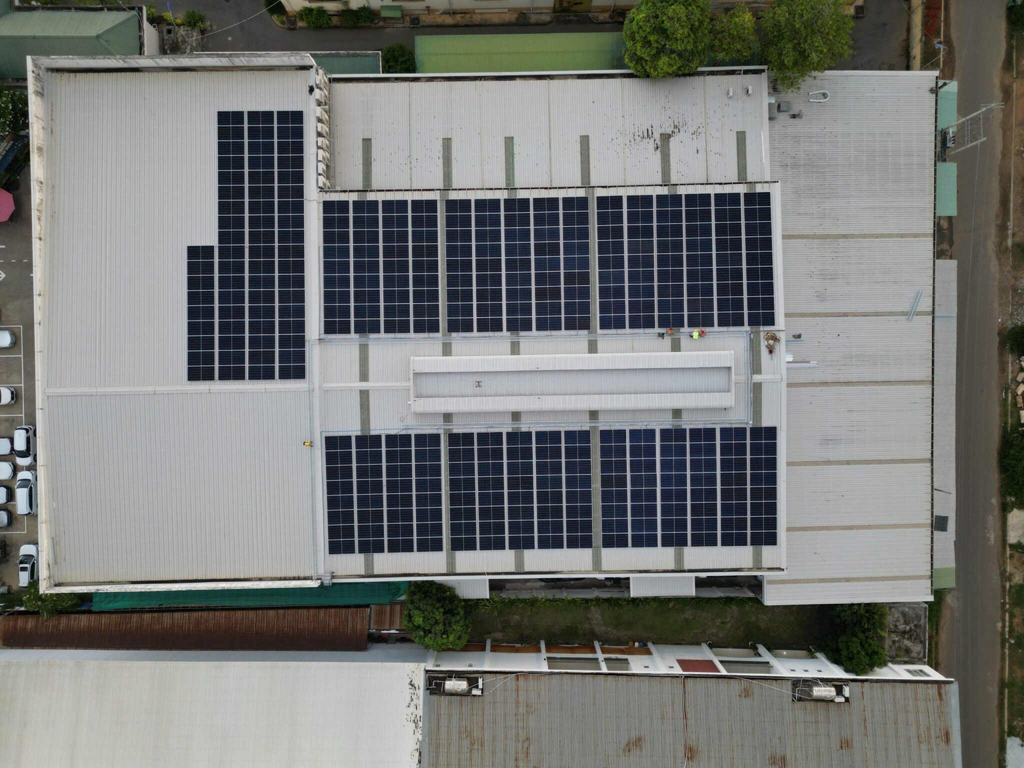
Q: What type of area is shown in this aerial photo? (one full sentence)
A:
It's an industrial area.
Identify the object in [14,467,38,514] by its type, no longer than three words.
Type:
car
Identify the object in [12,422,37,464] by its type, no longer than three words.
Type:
car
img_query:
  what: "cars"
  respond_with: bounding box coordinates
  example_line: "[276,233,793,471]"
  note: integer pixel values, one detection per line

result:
[12,422,37,464]
[0,461,17,480]
[0,330,18,349]
[0,384,19,407]
[0,436,15,456]
[0,485,12,504]
[14,467,38,514]
[0,508,13,528]
[15,542,40,589]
